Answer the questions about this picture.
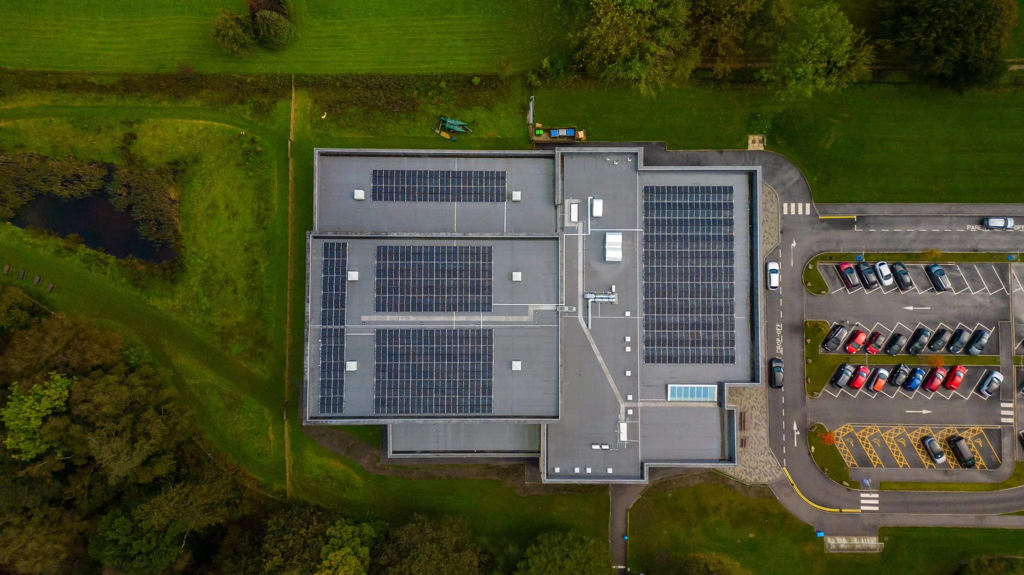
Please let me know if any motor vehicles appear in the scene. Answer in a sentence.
Yes, the image includes a motor vehicle.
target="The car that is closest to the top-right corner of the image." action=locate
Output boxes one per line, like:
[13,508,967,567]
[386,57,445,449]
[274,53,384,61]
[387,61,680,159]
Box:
[982,216,1013,229]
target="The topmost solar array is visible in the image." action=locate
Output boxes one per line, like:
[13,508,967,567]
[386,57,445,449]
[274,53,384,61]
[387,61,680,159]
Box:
[371,169,507,202]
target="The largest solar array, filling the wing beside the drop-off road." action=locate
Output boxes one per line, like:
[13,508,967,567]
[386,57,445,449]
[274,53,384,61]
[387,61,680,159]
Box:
[643,185,736,364]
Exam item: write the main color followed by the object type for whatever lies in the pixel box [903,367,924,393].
blue car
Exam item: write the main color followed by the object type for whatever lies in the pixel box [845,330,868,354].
red car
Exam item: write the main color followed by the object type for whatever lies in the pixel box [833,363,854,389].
gray car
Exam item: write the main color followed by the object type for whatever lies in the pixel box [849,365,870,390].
red car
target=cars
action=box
[838,262,860,288]
[903,367,924,393]
[766,262,779,290]
[980,370,1002,398]
[928,263,952,292]
[874,261,894,287]
[966,328,992,357]
[857,263,879,289]
[982,216,1013,229]
[849,365,870,390]
[845,330,868,354]
[892,263,914,290]
[885,332,908,357]
[924,367,945,393]
[944,365,965,391]
[833,363,854,389]
[888,363,909,388]
[928,327,951,353]
[947,328,971,354]
[948,437,972,466]
[907,328,931,356]
[867,368,889,394]
[823,324,848,353]
[921,436,943,464]
[865,331,887,355]
[769,358,785,389]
